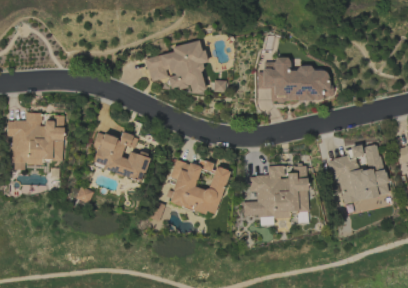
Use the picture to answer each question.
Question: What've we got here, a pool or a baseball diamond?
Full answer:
It is a pool that can be seen here.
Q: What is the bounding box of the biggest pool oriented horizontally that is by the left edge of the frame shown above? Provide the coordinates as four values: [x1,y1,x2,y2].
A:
[16,174,48,186]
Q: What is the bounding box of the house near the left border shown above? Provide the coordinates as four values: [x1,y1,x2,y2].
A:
[6,113,65,170]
